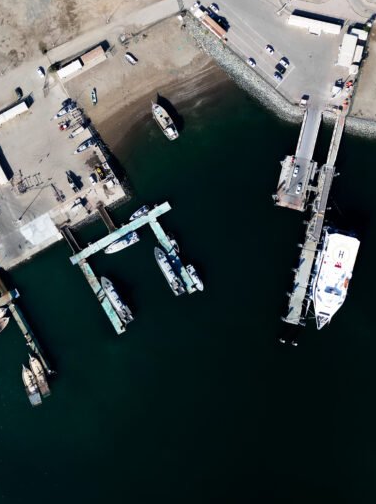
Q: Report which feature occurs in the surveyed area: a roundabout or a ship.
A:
ship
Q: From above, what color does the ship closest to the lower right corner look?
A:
white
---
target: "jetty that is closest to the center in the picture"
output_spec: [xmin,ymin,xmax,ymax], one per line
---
[60,202,196,334]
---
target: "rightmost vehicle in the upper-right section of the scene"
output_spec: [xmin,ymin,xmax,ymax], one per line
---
[330,84,343,99]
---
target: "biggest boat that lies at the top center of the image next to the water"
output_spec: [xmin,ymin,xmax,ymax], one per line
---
[151,95,179,142]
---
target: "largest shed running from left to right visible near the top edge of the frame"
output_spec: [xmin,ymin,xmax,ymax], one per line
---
[286,15,341,36]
